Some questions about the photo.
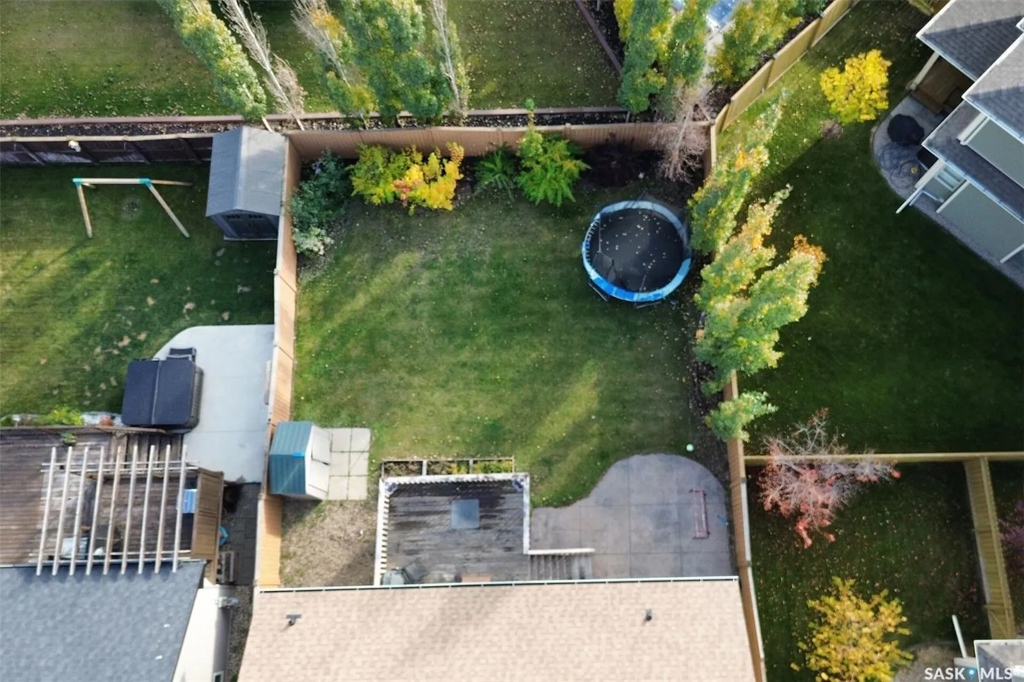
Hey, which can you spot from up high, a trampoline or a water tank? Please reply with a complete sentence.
I can see a trampoline in this picture.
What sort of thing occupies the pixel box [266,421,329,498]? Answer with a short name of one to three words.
shed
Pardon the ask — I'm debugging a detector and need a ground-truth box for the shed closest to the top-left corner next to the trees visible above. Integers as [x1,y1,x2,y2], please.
[200,124,285,241]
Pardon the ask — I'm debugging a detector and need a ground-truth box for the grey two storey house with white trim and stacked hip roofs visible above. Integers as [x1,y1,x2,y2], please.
[895,0,1024,279]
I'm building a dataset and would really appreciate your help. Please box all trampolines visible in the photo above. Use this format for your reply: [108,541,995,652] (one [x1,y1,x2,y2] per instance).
[579,186,693,312]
